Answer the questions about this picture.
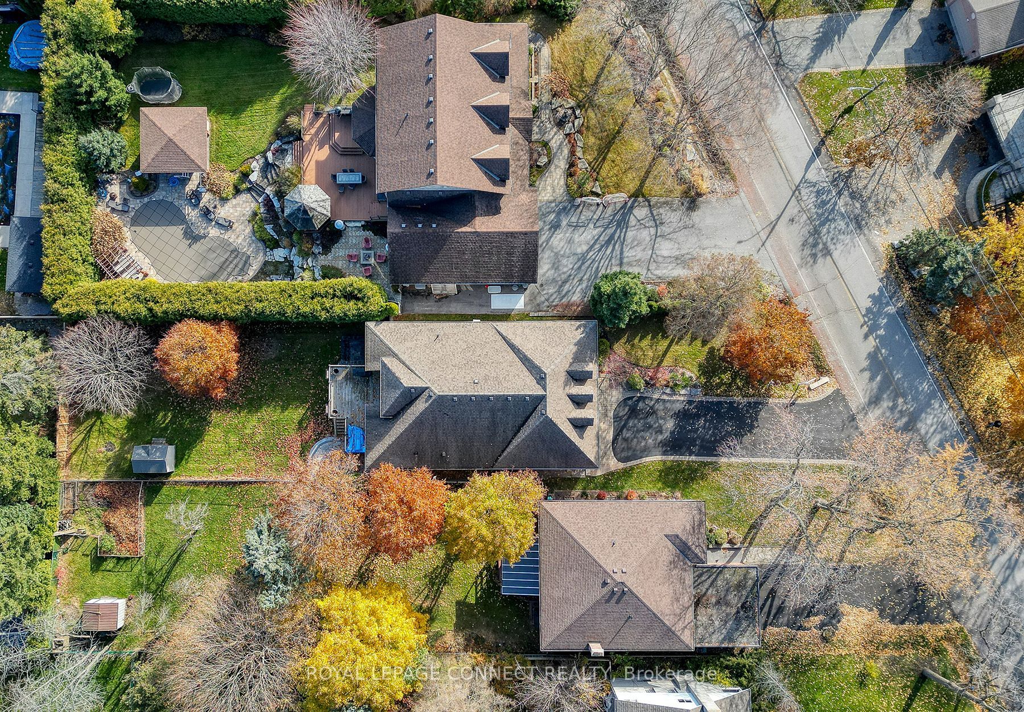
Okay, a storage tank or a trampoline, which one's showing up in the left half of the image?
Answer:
trampoline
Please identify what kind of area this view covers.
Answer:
residential area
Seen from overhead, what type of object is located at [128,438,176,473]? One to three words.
shed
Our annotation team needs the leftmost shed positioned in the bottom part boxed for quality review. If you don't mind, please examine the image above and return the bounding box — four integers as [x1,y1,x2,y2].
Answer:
[82,596,130,632]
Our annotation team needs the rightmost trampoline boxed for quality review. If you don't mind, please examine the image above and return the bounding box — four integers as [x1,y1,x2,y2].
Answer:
[129,63,182,106]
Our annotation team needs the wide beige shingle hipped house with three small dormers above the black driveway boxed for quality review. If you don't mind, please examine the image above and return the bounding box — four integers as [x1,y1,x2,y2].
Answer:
[364,319,600,470]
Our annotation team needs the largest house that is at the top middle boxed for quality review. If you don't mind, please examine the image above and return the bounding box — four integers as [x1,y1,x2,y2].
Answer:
[352,14,539,285]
